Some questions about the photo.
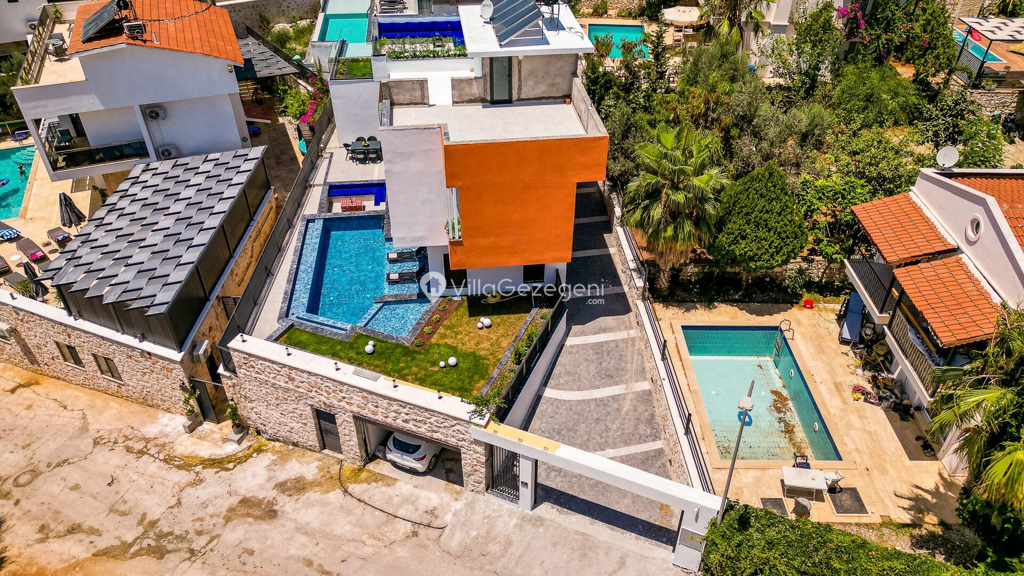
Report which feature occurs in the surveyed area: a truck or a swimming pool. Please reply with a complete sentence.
This aerial view contains a swimming pool.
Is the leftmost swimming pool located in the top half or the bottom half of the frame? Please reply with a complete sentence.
The leftmost swimming pool is in the top half of the image.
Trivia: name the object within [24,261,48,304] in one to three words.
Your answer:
umbrella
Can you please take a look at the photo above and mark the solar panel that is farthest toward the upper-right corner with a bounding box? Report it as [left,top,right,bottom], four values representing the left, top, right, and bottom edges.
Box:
[483,0,543,46]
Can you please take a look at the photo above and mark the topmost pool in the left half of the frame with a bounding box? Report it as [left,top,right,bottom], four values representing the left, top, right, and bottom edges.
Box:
[307,0,374,127]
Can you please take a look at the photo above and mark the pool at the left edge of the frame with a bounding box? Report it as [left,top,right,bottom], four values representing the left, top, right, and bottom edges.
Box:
[0,140,39,223]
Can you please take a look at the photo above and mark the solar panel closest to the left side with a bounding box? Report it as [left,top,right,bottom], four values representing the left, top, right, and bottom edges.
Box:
[84,5,122,60]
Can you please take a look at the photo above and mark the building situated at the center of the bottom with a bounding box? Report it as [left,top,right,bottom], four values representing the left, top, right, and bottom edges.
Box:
[351,362,505,494]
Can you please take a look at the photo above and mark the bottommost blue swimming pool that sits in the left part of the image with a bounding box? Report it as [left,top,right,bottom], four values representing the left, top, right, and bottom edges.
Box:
[265,204,443,370]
